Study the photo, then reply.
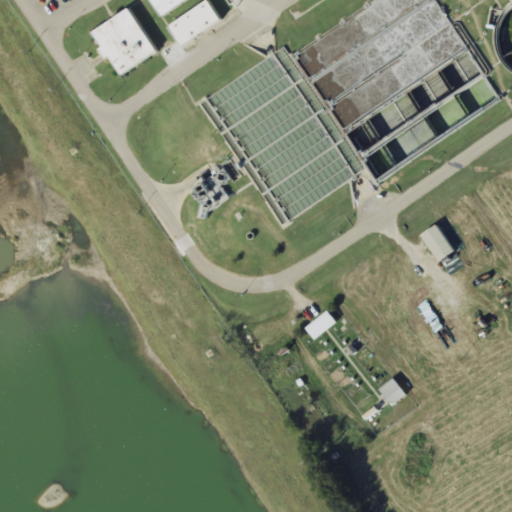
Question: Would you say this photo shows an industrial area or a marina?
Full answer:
The area seen from above is an industrial area.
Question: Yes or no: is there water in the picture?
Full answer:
Yes, there's water in this view.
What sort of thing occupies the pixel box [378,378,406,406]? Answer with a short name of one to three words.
barn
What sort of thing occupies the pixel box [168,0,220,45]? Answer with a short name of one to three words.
building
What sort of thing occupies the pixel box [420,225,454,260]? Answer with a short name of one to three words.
shed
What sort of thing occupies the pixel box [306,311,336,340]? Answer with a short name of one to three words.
barn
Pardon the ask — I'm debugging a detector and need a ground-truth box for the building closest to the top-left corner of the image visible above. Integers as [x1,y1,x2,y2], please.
[90,8,157,76]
